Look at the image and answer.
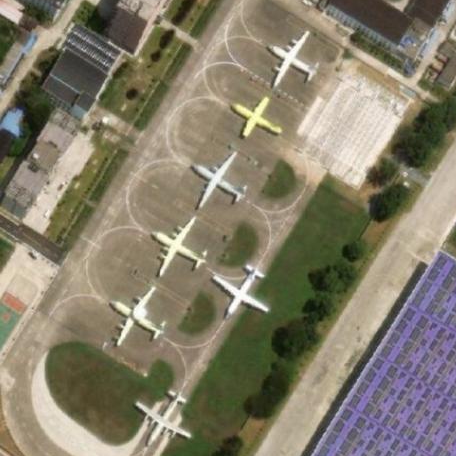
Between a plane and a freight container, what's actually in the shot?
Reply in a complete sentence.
This aerial view contains a plane.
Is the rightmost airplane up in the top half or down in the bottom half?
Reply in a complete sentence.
The rightmost airplane is in the top half of the image.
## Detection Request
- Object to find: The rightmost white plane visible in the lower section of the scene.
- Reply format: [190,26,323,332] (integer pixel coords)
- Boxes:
[212,266,269,319]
